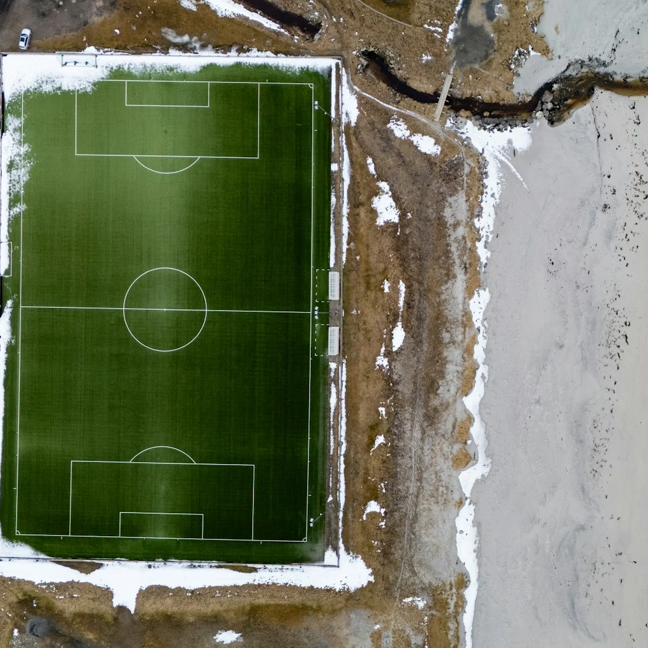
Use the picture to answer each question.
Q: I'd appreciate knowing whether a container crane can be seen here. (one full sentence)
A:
No, the scene contains no container crane.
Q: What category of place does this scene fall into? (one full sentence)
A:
It's a sports ground.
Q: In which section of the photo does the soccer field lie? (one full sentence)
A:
The soccer field appears toward the left of the photo.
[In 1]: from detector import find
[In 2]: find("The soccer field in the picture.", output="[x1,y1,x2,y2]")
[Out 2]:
[0,55,332,565]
